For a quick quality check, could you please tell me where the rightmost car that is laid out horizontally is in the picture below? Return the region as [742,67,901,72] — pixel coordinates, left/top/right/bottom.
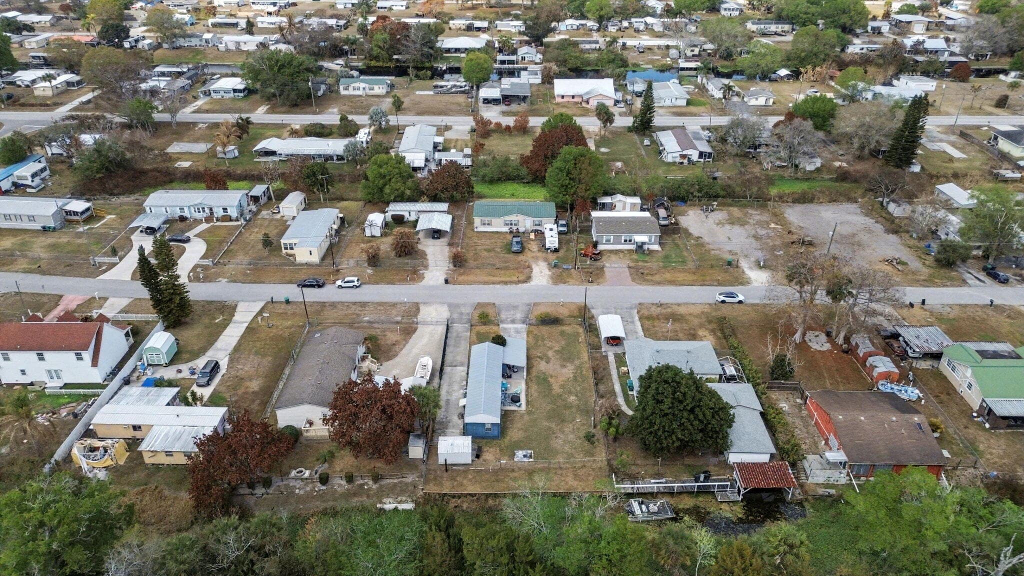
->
[982,271,1014,286]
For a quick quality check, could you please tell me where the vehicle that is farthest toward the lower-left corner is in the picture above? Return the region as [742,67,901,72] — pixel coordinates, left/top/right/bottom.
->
[192,364,223,391]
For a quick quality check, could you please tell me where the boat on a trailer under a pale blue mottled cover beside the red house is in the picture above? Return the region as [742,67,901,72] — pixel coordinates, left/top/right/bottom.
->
[862,382,937,403]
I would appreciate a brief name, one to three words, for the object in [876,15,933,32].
house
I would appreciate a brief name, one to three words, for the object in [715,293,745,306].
vehicle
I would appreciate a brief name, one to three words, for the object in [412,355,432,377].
boat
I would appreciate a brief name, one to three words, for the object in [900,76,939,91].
building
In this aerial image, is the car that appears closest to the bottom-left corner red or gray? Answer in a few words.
gray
